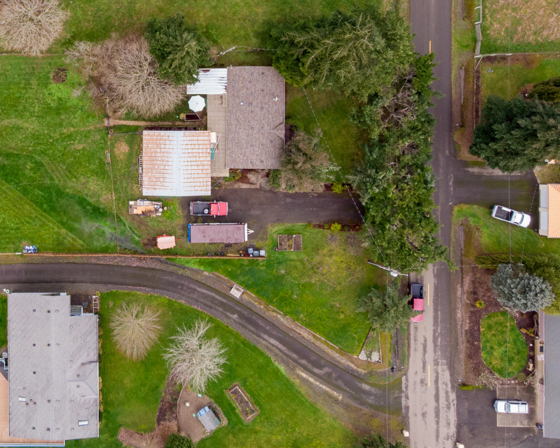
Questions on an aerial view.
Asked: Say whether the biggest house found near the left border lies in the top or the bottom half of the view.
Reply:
bottom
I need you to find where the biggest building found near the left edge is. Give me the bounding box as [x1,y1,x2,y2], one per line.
[7,292,99,441]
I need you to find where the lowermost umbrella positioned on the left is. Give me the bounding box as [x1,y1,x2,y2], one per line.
[190,95,207,112]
